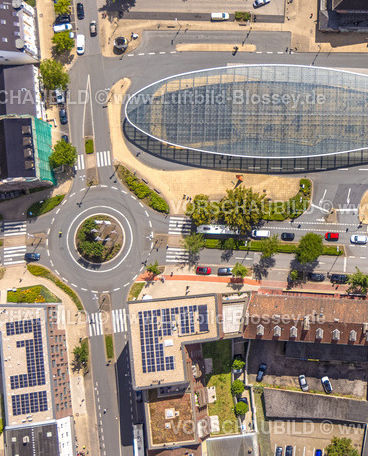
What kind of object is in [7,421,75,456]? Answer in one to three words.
building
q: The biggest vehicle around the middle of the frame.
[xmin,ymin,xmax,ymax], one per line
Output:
[195,224,241,237]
